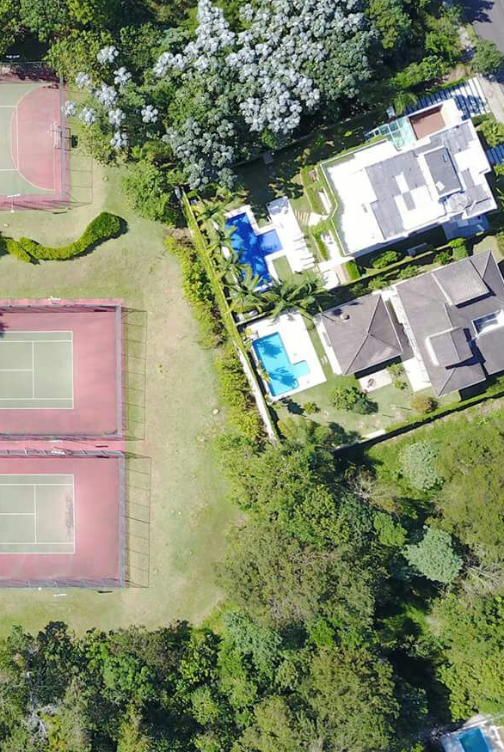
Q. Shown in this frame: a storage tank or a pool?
pool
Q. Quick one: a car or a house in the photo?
house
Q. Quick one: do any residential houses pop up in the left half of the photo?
No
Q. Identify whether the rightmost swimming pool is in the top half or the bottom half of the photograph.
bottom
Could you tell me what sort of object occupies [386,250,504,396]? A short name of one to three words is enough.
house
